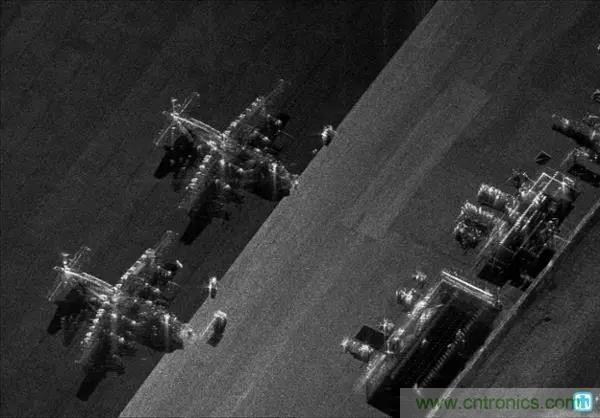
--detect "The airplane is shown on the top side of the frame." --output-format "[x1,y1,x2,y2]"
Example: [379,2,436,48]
[154,81,293,212]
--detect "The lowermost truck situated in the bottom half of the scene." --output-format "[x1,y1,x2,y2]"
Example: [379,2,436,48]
[341,339,377,365]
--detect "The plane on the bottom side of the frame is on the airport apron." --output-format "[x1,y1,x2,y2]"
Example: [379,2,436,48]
[45,232,186,367]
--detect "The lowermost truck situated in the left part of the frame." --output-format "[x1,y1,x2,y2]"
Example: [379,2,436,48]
[197,310,226,341]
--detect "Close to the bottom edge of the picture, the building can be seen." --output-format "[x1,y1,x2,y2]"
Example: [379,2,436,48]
[363,273,502,418]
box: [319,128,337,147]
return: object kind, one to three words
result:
vehicle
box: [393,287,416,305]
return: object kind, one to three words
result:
vehicle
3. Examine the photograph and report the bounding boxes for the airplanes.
[45,232,186,367]
[154,81,293,212]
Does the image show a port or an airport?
airport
